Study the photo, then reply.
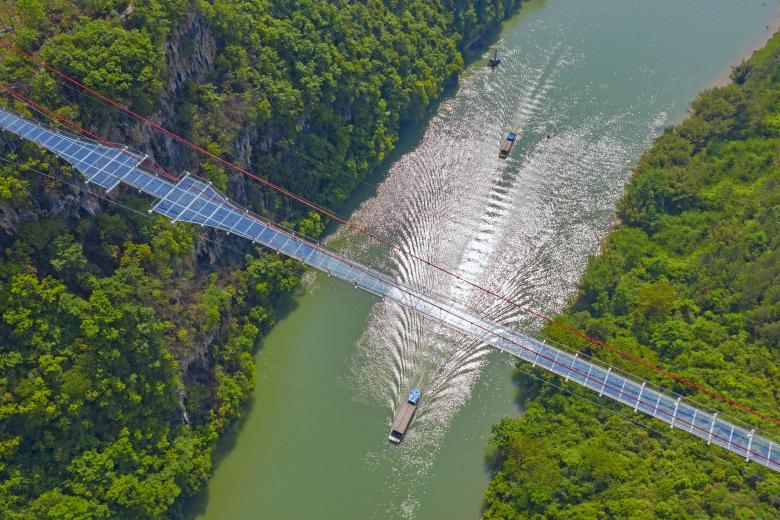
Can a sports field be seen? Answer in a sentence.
No, the frame has no sports field in it.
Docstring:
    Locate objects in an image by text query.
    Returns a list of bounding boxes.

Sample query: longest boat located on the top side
[499,130,516,158]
